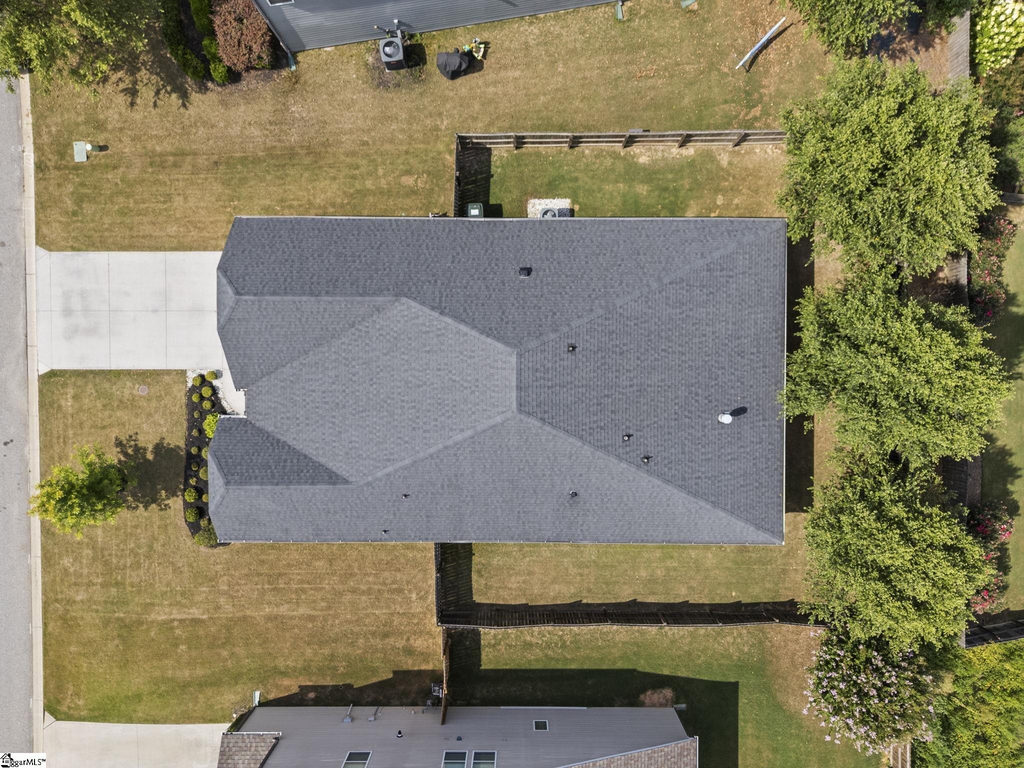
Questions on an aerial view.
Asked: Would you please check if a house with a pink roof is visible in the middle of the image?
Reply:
No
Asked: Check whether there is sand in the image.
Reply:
No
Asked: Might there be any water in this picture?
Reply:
No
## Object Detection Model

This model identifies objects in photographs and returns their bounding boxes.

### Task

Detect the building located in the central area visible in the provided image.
[207,217,786,544]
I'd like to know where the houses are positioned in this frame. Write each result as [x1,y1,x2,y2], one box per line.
[207,217,786,544]
[258,0,627,53]
[211,705,699,768]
